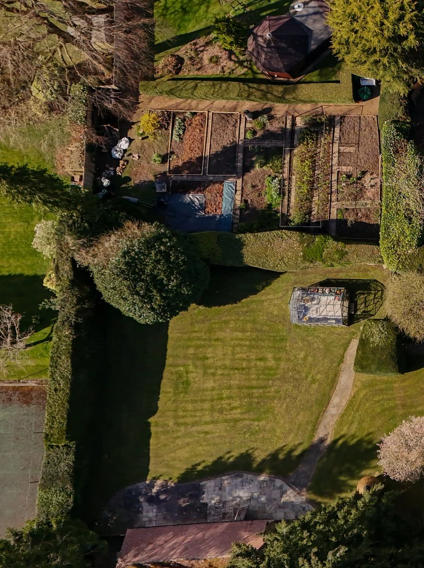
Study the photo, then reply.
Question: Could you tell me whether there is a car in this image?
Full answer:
No, the photo shows no car.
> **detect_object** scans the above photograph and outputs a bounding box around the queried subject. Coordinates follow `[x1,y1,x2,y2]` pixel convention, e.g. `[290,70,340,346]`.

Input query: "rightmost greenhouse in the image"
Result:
[289,288,357,327]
